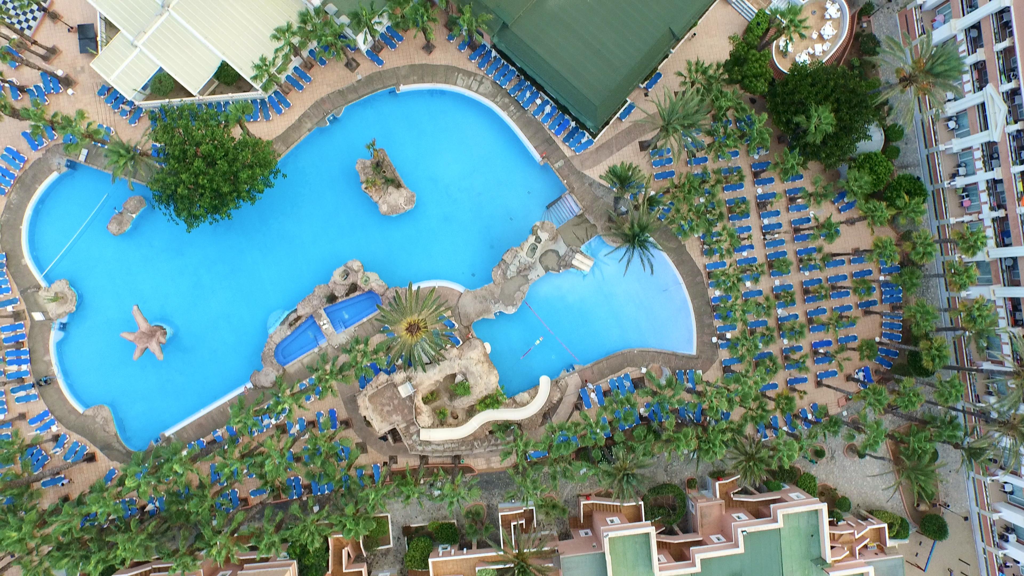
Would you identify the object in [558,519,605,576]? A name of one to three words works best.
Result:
building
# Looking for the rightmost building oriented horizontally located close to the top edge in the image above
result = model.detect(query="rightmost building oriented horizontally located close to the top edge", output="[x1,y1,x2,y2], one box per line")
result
[447,0,721,133]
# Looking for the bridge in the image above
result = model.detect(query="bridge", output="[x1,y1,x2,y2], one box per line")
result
[458,221,593,326]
